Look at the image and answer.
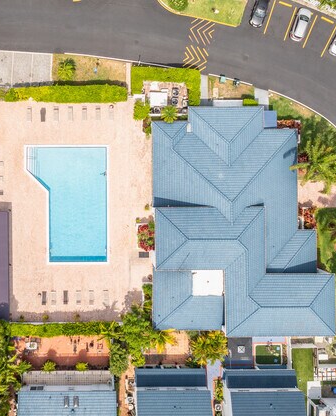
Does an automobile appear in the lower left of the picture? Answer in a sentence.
No, there's no automobile to be seen in the lower left of the picture.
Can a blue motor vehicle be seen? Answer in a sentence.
No, there isn't any blue motor vehicle down there.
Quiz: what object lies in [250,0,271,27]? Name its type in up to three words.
car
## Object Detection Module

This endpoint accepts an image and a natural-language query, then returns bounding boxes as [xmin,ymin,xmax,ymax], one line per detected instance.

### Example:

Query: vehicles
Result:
[250,0,271,27]
[288,7,312,44]
[327,33,336,57]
